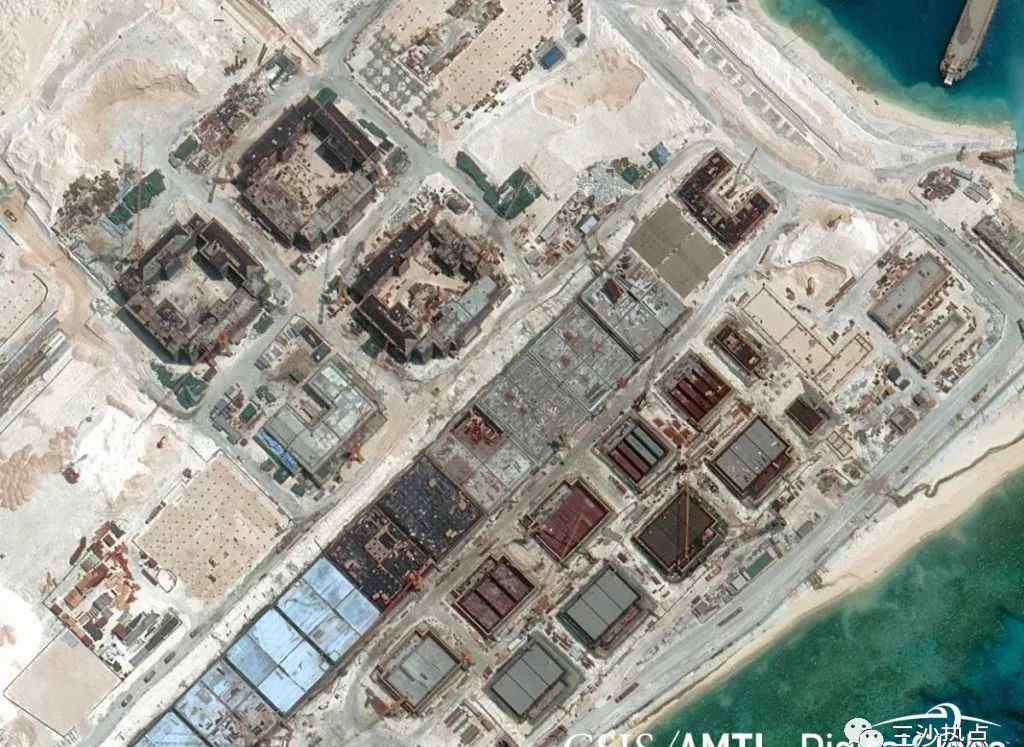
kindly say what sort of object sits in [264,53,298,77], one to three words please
shed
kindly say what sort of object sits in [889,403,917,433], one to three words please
building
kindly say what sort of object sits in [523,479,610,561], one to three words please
building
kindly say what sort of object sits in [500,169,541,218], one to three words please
shed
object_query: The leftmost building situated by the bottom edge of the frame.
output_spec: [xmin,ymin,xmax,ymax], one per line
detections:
[380,637,462,715]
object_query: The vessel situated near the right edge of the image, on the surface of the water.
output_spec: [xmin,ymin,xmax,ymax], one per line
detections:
[940,0,999,87]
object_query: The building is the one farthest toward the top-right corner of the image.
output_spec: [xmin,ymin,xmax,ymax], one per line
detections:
[972,216,1024,294]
